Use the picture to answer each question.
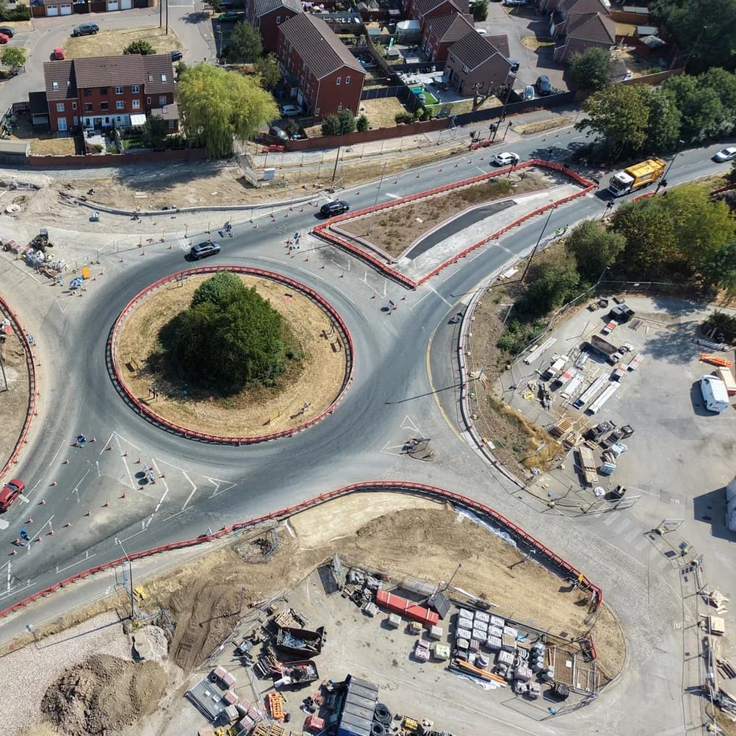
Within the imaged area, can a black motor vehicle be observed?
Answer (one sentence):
Yes, there's a black motor vehicle here.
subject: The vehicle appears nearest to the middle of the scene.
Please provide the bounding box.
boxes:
[319,199,352,218]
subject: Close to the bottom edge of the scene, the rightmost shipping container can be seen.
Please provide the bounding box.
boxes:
[335,675,380,736]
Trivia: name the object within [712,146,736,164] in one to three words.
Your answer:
car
